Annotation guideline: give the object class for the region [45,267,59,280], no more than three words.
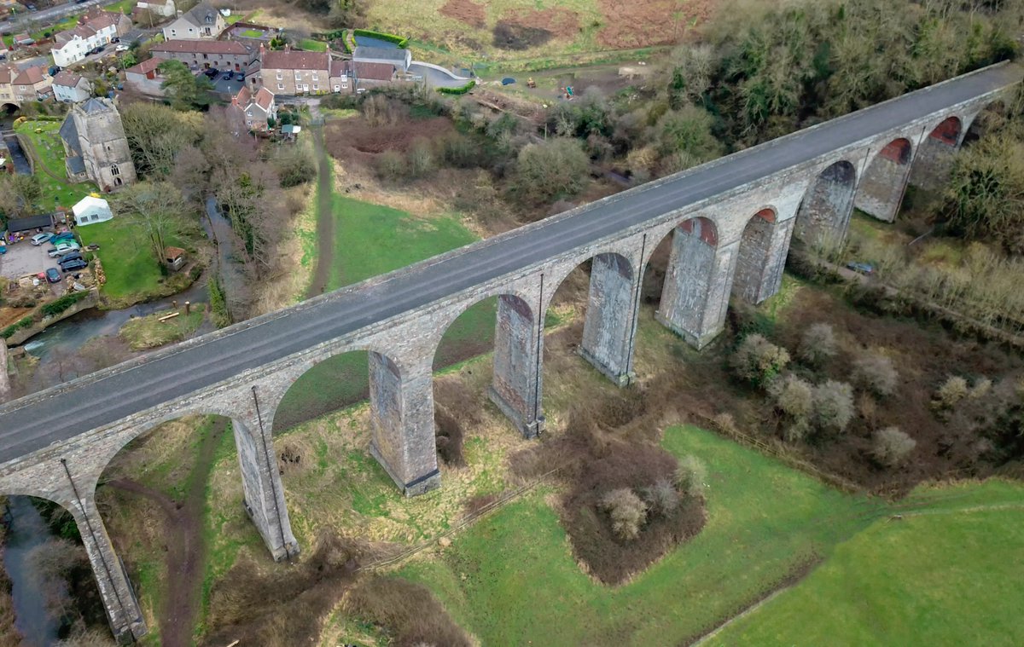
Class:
vehicle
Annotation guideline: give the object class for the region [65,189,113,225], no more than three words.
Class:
tent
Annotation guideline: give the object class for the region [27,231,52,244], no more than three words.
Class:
vehicle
